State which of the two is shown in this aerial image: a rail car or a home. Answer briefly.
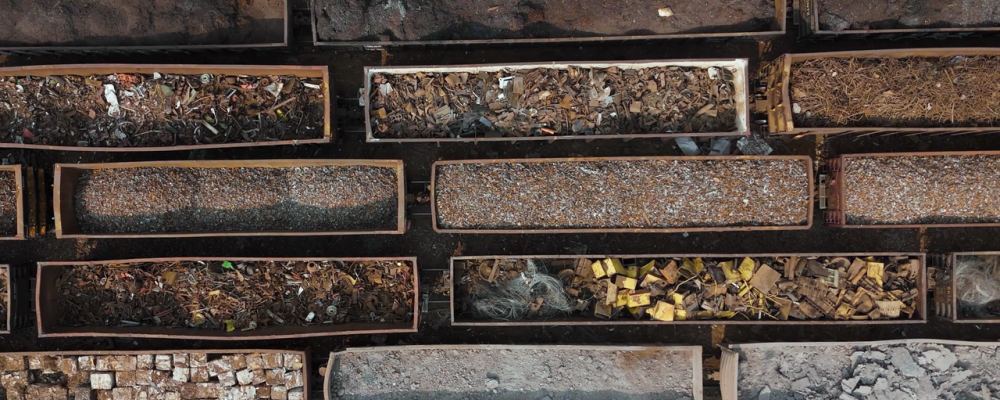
rail car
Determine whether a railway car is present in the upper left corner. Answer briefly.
Yes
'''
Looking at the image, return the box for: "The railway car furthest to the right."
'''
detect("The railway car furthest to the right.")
[911,246,1000,323]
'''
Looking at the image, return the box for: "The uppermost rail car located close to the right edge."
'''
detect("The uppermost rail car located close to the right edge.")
[785,0,1000,49]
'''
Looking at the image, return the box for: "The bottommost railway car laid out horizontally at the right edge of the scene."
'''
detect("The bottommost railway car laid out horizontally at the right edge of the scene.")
[704,331,1000,400]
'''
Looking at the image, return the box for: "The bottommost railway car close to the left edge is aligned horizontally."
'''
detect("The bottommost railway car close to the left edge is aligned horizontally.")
[0,338,327,400]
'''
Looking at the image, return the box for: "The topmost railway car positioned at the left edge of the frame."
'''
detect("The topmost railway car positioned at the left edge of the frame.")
[0,0,314,61]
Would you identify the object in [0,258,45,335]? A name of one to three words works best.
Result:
rail car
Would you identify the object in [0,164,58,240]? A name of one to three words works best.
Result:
rail car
